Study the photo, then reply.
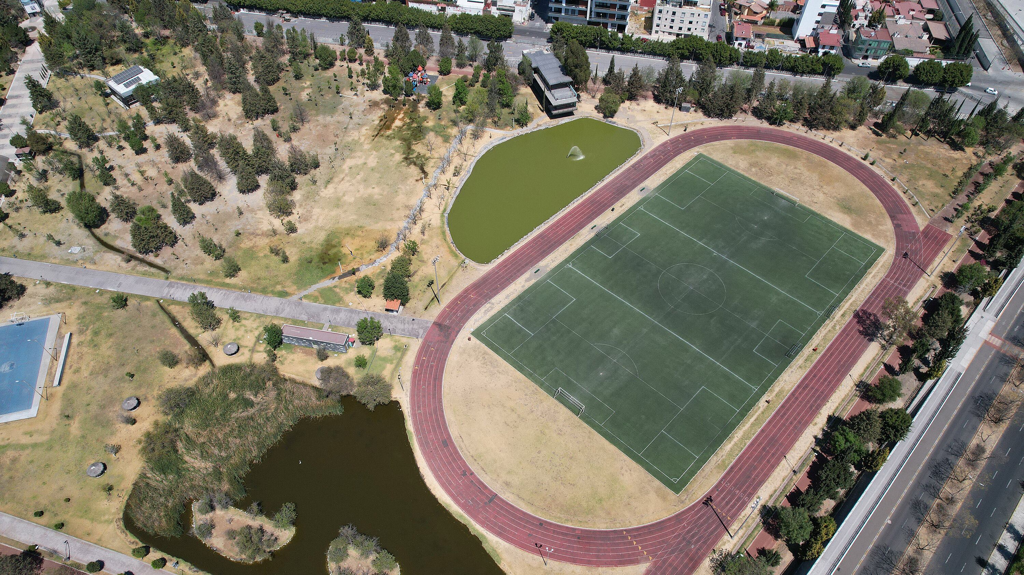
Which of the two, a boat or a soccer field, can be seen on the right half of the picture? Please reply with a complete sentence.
There is a soccer field on the right half of the picture.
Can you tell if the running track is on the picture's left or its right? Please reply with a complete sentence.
The running track is on the right side of the image.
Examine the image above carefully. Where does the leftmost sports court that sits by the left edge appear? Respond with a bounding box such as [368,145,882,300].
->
[0,314,62,424]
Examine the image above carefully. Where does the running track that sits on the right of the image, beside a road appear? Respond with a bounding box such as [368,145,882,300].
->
[409,126,954,575]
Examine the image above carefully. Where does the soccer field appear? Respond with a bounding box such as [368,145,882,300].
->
[469,152,887,497]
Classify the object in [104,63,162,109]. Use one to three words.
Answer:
building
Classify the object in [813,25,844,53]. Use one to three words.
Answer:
house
